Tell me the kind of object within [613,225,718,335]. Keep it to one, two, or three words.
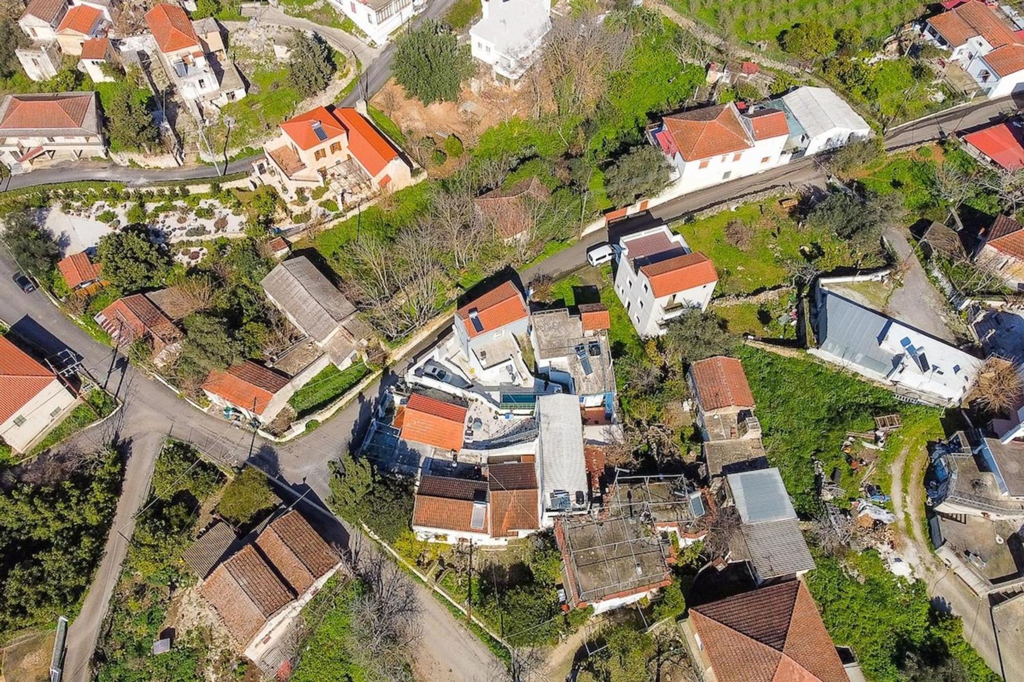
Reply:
house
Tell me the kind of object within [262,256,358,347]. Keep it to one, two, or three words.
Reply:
barn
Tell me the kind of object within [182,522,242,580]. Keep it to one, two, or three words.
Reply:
shed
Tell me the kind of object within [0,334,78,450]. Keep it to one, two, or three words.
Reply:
building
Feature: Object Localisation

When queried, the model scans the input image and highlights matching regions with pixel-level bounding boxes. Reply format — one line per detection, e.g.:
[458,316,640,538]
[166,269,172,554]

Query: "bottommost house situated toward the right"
[686,580,850,682]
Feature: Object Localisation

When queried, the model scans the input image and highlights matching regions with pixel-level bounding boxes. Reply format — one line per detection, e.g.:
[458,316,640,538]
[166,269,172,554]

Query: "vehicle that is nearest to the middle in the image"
[422,362,460,388]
